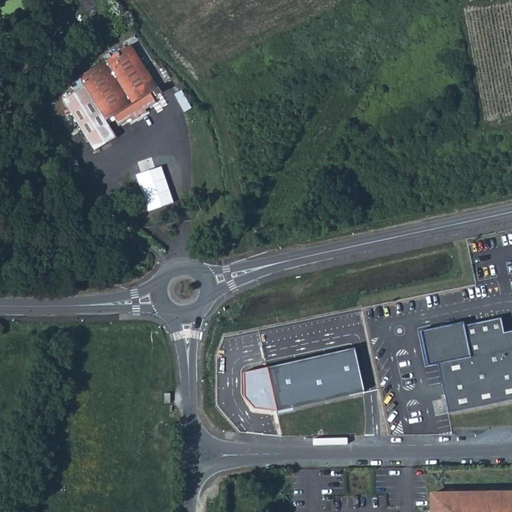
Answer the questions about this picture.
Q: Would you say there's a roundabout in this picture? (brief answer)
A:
Yes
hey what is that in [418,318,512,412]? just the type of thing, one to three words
building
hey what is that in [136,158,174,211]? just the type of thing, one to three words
barn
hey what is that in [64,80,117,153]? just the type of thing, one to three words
building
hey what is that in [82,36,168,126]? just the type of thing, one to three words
house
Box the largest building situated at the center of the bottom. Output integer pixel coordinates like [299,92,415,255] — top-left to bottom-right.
[242,348,365,415]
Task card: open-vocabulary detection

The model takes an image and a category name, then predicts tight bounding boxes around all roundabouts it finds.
[138,256,231,332]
